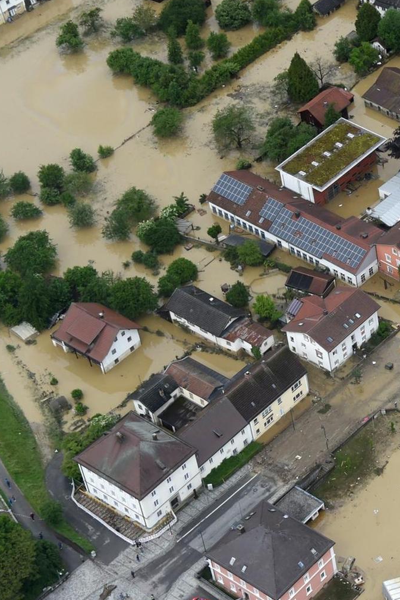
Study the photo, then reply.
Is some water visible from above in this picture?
Yes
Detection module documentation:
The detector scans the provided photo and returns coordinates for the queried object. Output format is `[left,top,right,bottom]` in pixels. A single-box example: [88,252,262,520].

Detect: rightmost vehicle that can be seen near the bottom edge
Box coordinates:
[342,557,358,573]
